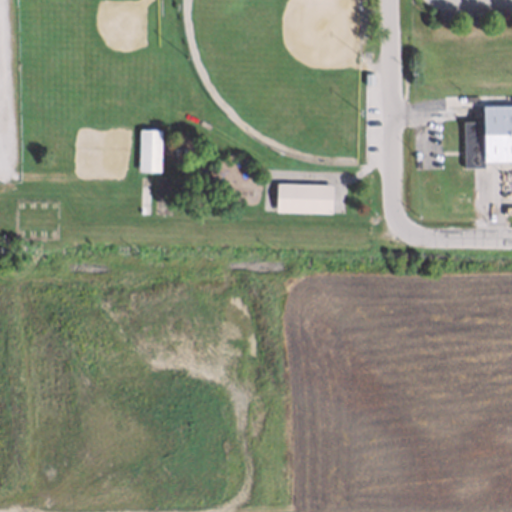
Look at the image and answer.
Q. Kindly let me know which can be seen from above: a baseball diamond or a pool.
baseball diamond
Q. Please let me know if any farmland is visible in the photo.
Yes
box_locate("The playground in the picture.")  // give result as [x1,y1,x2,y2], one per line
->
[212,164,262,206]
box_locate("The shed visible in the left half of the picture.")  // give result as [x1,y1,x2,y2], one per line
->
[140,129,163,172]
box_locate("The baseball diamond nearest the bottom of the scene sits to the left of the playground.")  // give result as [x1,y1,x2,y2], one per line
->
[24,122,140,200]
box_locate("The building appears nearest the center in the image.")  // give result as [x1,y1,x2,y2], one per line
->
[278,183,334,214]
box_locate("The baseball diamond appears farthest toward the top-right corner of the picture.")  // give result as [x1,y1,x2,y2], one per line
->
[194,0,366,156]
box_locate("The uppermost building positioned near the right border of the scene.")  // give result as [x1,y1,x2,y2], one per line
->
[464,106,512,168]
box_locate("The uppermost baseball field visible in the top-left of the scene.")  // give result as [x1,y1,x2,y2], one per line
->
[24,0,190,122]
